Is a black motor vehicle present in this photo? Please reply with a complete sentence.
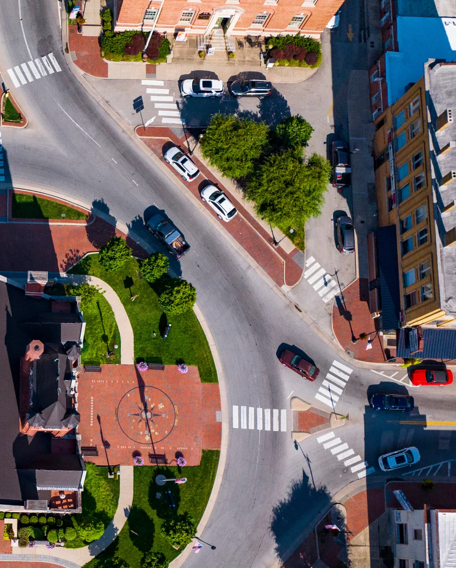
Yes, a black motor vehicle appears in the view.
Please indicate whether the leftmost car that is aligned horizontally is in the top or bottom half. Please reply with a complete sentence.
Seen from above, the leftmost car that is aligned horizontally lies in the top half of the view.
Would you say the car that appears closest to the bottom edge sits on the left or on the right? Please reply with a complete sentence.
You can find the car that appears closest to the bottom edge on the right side of the picture.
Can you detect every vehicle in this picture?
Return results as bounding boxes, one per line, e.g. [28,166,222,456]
[229,77,273,99]
[331,142,353,188]
[335,216,357,253]
[277,350,320,383]
[162,148,200,182]
[146,216,192,259]
[409,368,452,387]
[179,78,224,99]
[328,9,345,31]
[199,190,238,222]
[377,448,420,471]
